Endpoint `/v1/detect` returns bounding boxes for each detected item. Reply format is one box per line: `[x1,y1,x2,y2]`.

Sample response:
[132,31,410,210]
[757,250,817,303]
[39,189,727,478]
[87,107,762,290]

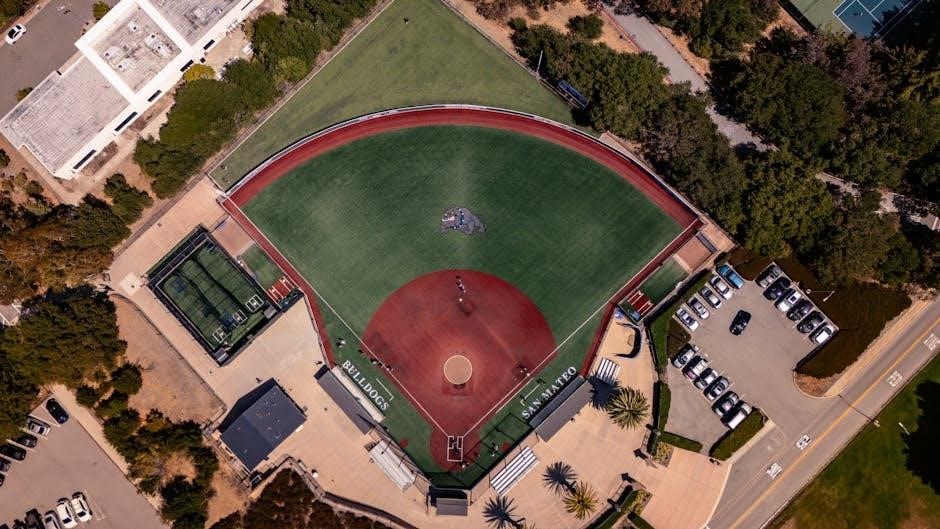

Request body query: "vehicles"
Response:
[681,353,710,382]
[693,366,717,391]
[0,442,28,462]
[57,500,78,528]
[698,286,723,310]
[671,343,696,369]
[808,321,835,344]
[763,277,789,299]
[705,377,729,400]
[47,399,71,423]
[44,510,63,529]
[675,308,699,332]
[686,296,711,320]
[713,390,738,416]
[73,494,92,522]
[26,506,48,529]
[786,298,812,321]
[0,454,17,474]
[718,264,746,291]
[5,22,29,46]
[795,308,826,333]
[723,401,752,430]
[12,431,39,450]
[25,417,54,437]
[774,288,801,310]
[753,264,783,289]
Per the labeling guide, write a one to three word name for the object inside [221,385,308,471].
building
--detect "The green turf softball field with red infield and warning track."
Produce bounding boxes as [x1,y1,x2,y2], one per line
[222,107,705,487]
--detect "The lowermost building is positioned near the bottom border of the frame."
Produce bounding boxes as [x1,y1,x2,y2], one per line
[430,491,467,516]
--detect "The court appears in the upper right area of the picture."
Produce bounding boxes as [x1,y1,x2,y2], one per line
[778,0,940,129]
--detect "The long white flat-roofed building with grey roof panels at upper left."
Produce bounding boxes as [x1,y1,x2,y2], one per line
[0,0,263,179]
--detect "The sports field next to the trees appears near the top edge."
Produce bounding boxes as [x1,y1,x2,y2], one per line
[212,0,612,198]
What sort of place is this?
sports ground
